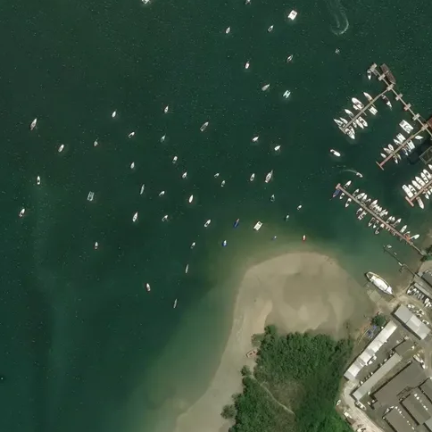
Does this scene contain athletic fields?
No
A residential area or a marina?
marina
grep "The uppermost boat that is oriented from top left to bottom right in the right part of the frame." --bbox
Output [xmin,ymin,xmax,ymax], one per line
[381,64,394,85]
